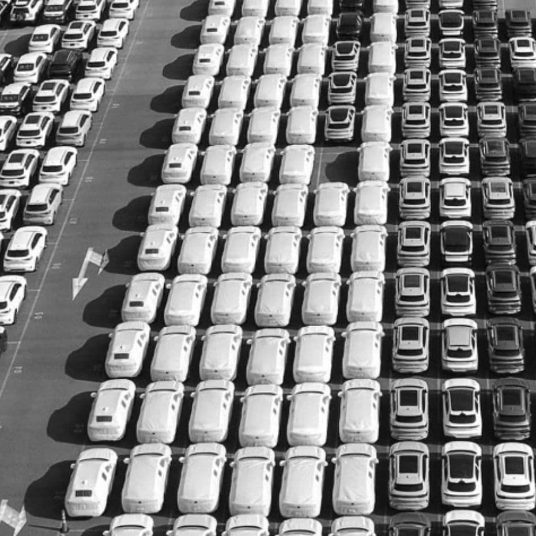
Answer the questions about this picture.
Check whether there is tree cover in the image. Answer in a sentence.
No, no tree cover is visible.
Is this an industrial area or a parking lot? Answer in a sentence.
This image shows a parking lot.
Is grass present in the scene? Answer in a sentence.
No, no grass is visible.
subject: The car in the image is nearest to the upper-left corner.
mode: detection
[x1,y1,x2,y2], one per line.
[10,0,46,26]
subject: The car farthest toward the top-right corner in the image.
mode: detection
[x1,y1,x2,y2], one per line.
[506,9,533,40]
